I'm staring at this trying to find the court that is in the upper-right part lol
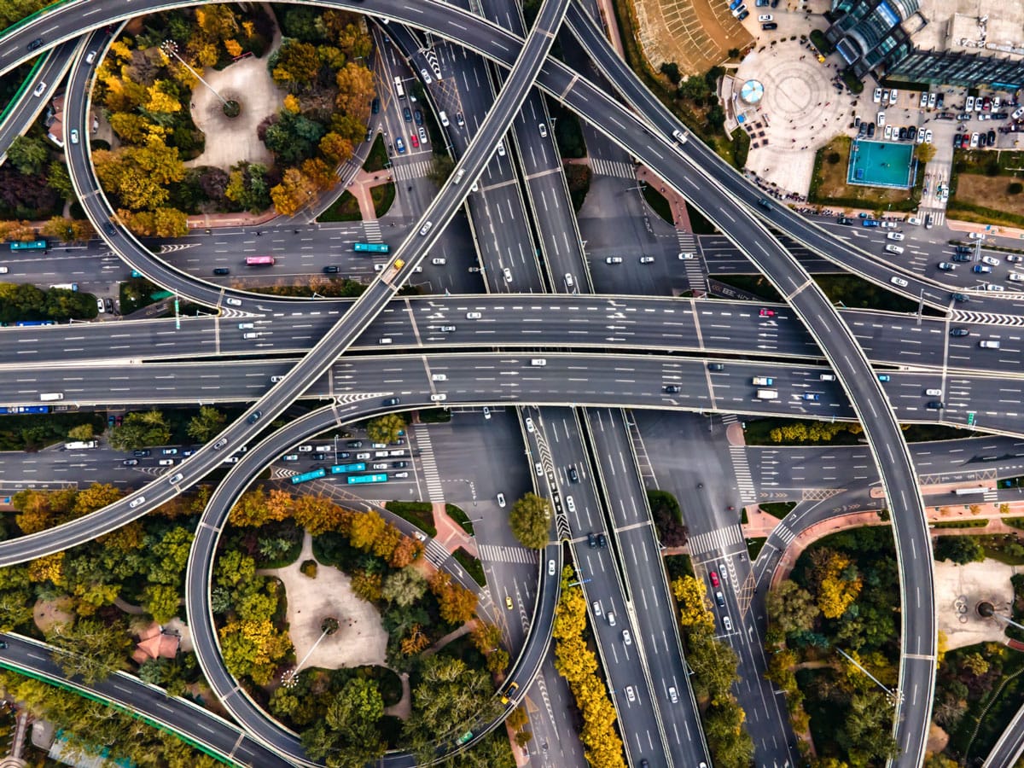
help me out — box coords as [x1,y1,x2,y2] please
[847,137,918,189]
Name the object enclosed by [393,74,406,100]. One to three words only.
vehicle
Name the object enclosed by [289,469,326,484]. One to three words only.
vehicle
